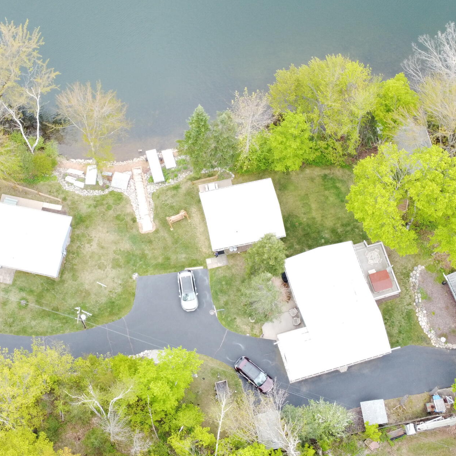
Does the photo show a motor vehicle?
Yes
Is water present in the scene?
Yes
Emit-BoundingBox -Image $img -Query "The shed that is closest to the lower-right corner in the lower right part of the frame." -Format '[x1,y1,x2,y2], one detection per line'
[357,400,388,427]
